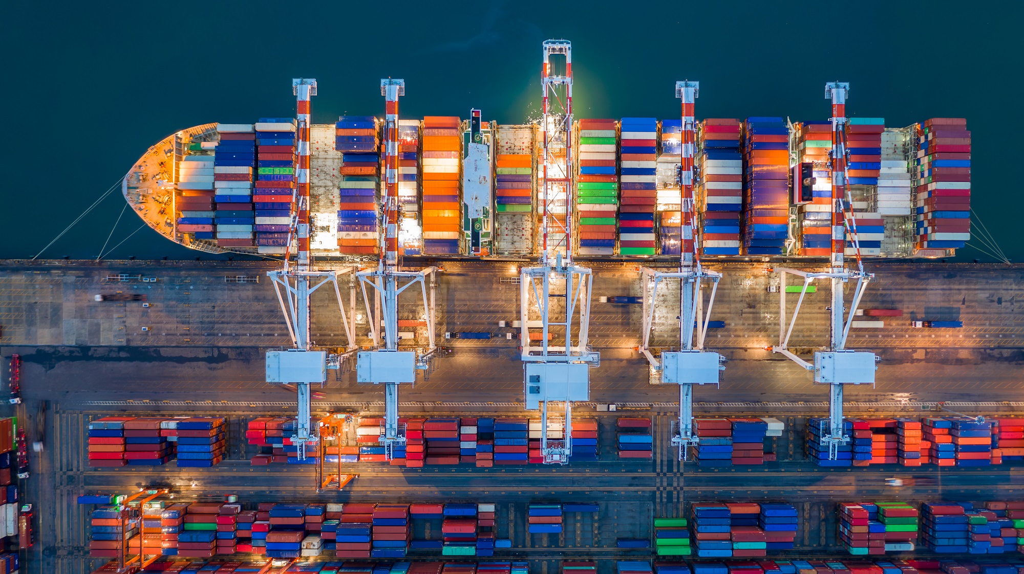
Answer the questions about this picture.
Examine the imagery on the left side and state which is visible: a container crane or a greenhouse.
container crane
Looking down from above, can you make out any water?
Yes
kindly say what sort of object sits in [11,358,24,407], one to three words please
vehicle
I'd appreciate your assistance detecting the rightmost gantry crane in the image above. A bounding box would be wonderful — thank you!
[749,80,885,461]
